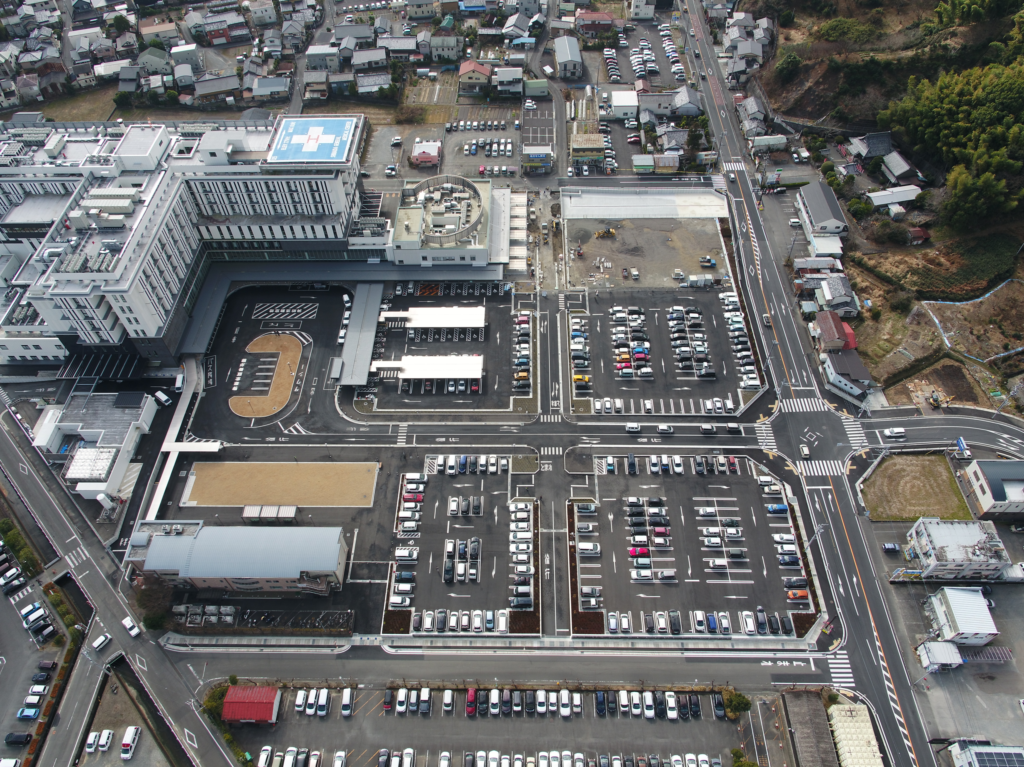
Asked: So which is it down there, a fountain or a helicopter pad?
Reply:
helicopter pad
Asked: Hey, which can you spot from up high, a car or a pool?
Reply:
car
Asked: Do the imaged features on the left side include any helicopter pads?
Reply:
Yes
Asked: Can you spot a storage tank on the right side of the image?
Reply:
No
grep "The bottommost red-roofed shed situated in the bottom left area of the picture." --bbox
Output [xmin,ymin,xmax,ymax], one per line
[221,686,280,723]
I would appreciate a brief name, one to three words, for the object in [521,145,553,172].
building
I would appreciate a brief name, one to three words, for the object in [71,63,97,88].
house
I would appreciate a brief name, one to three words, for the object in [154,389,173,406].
vehicle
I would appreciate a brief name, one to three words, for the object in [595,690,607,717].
vehicle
